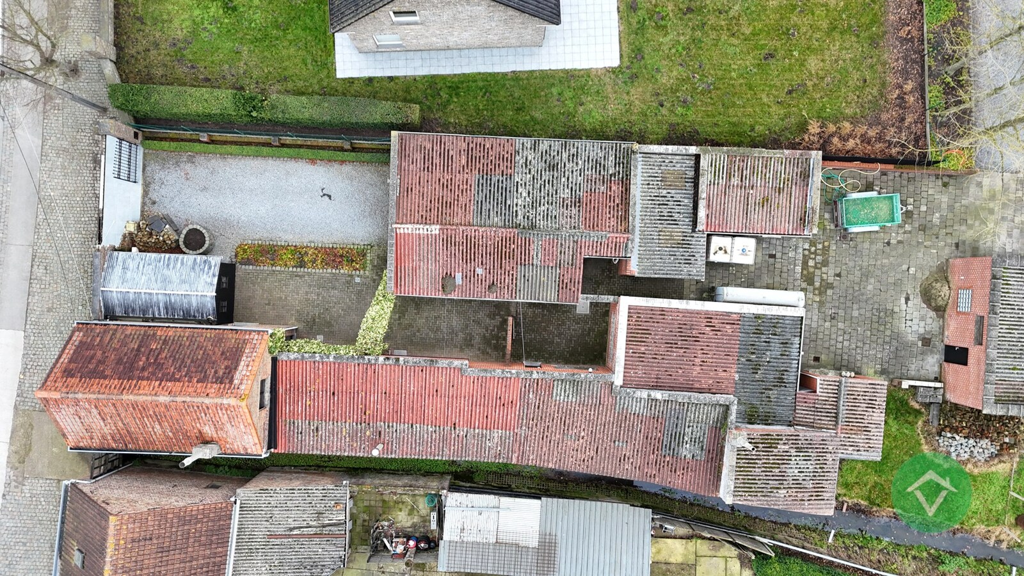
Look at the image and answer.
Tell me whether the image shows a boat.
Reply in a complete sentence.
No, there's no boat here.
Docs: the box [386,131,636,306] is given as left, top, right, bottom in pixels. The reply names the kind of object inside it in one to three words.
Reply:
barn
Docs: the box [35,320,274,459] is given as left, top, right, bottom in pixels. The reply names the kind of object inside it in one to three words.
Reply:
house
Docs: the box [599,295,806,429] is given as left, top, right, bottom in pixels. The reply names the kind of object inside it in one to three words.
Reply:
building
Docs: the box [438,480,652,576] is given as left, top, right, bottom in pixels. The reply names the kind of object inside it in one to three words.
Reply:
shed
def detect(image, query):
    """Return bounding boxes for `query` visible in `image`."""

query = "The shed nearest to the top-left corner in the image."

[99,250,236,320]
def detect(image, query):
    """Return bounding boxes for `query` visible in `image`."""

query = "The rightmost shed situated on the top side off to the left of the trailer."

[695,146,822,241]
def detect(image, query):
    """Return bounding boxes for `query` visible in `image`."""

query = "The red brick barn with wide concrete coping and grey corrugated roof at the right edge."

[942,255,1024,416]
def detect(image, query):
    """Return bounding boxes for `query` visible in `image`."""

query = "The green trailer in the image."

[829,190,910,234]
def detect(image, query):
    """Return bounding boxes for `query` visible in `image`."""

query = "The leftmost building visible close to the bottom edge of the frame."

[60,459,253,576]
